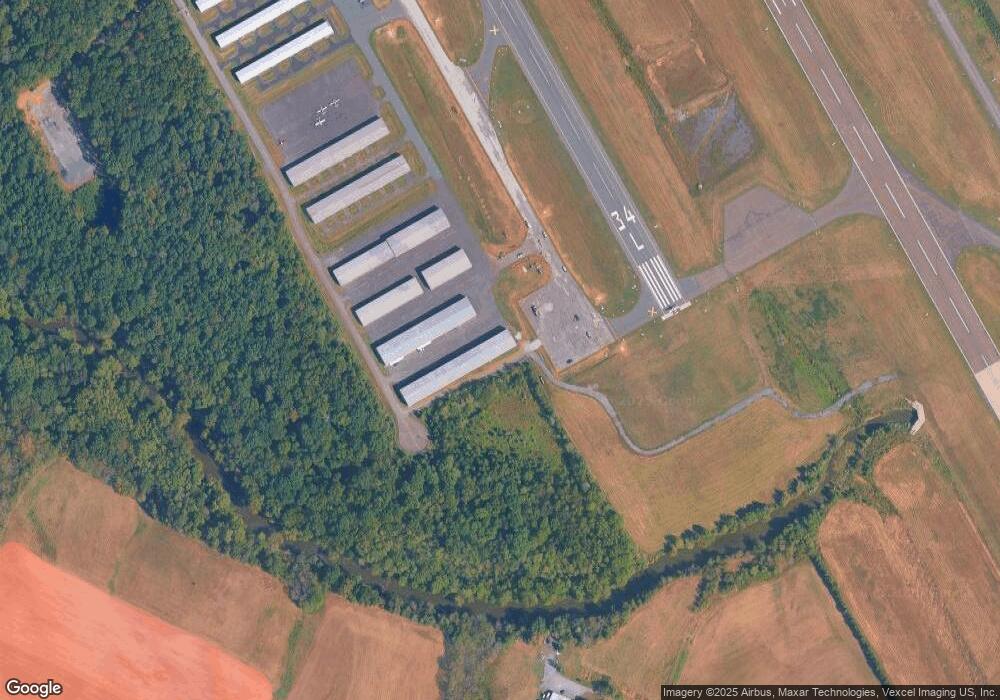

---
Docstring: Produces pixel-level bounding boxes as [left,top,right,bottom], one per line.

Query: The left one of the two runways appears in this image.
[482,0,692,321]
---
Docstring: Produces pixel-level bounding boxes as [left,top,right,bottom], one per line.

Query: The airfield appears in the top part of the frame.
[175,0,1000,453]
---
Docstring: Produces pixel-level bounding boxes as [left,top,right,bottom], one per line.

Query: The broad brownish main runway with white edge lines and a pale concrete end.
[762,0,1000,425]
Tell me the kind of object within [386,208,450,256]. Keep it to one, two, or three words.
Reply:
hangar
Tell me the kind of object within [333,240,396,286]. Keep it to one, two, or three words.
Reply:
hangar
